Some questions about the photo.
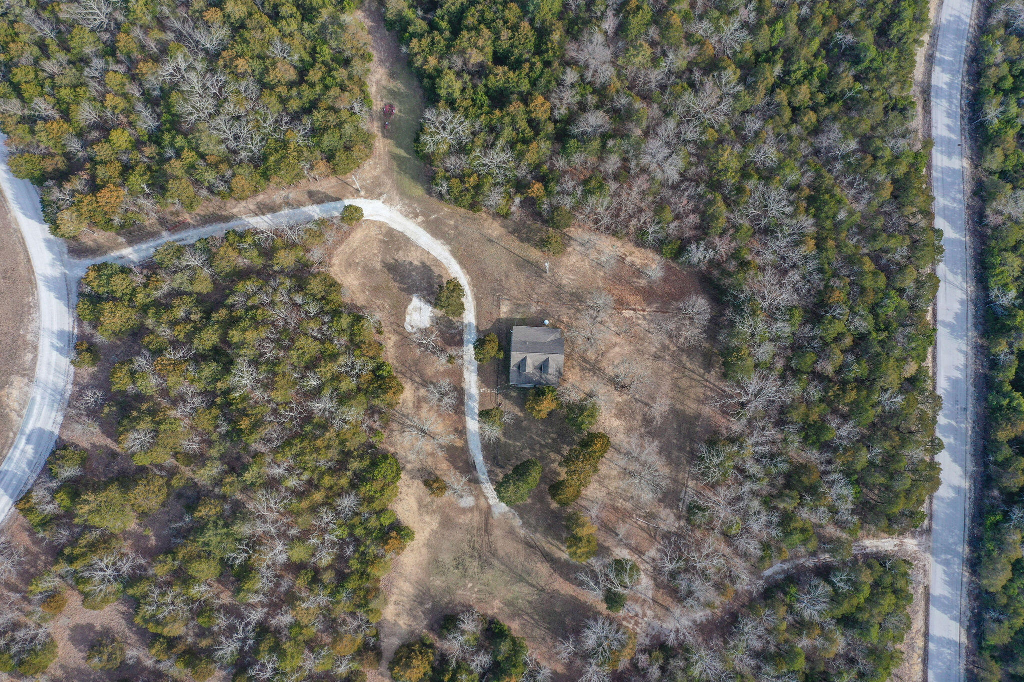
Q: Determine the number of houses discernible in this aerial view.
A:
1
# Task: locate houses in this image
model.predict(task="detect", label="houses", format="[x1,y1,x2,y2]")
[510,327,564,388]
